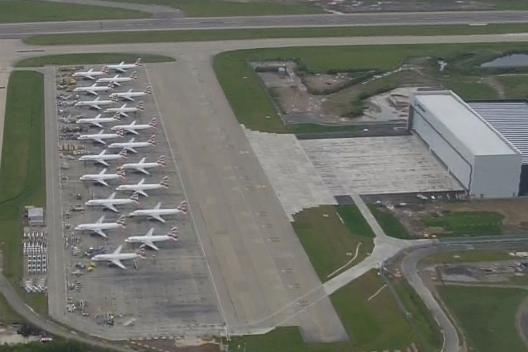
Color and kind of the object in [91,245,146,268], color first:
white airplane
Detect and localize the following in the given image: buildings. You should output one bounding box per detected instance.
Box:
[407,90,528,198]
[28,210,43,229]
